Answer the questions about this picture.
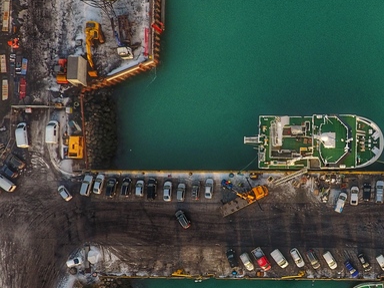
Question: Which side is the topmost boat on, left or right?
right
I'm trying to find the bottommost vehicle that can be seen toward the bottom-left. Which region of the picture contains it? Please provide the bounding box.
[65,255,84,267]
